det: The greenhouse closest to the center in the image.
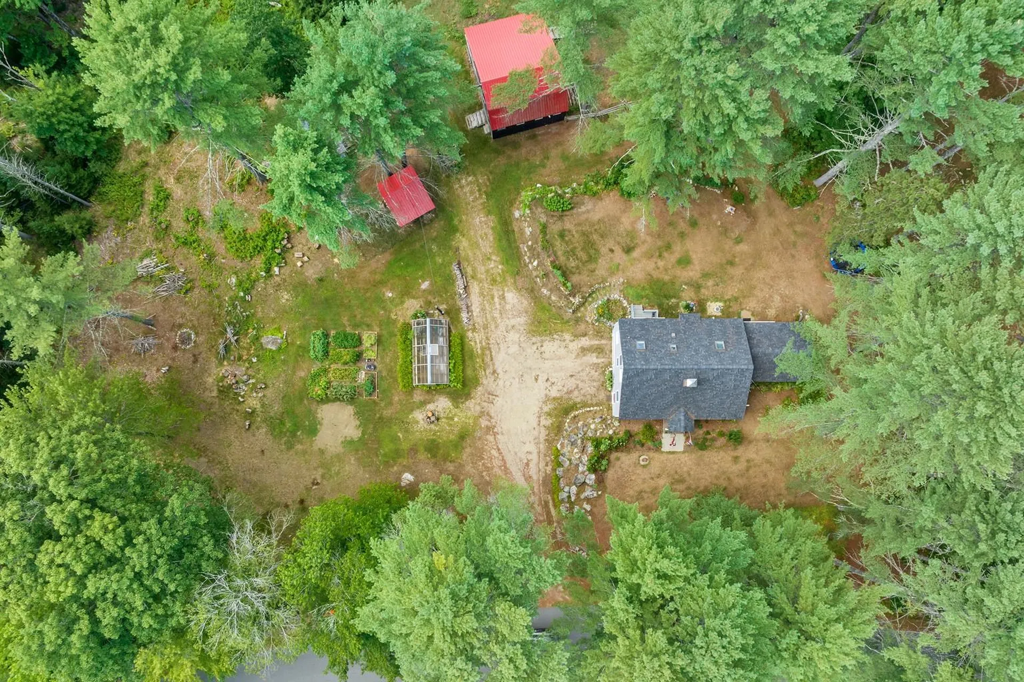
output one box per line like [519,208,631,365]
[412,317,451,386]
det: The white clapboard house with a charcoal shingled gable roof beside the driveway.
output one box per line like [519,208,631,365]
[613,305,819,434]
